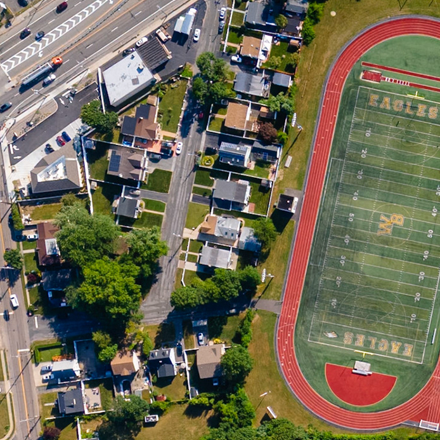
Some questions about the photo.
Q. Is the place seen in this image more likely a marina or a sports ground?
sports ground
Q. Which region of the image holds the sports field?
right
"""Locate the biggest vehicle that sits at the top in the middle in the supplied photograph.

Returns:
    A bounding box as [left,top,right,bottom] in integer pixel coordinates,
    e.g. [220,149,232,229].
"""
[181,10,195,33]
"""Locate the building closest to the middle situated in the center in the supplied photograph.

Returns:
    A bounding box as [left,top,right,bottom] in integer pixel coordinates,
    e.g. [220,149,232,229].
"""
[200,216,244,240]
